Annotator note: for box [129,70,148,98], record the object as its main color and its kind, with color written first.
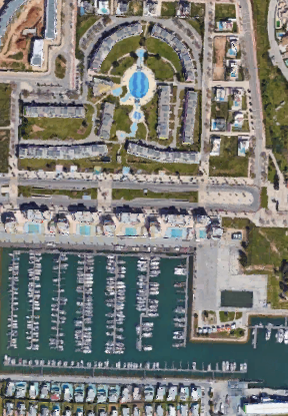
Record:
blue swimming pool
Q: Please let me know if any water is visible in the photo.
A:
Yes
